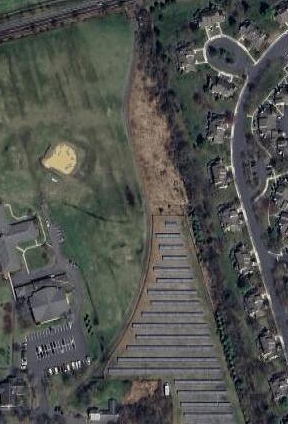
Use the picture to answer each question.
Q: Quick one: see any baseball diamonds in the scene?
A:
Yes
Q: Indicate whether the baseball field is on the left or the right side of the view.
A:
left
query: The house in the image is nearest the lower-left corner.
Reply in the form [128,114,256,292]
[0,381,24,408]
